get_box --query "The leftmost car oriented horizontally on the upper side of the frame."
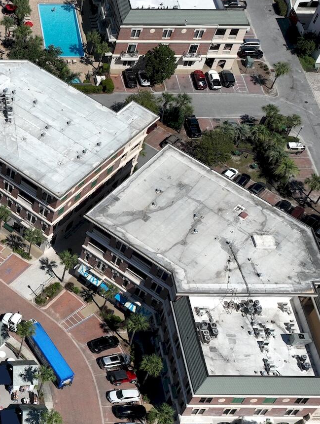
[161,134,185,148]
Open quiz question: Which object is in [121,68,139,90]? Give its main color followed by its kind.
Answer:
black car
